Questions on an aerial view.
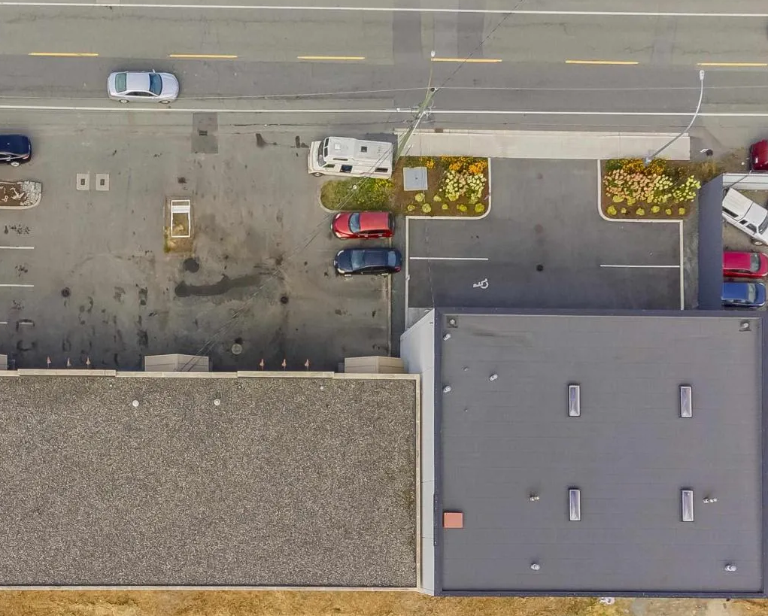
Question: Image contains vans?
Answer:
Yes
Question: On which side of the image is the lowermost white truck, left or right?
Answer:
right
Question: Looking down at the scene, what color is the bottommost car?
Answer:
blue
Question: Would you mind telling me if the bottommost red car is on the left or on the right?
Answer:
right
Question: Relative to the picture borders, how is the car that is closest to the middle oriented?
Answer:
from side to side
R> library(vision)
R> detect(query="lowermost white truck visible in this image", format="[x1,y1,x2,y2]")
[723,183,768,246]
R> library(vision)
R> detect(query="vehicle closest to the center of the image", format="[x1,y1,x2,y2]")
[333,245,401,277]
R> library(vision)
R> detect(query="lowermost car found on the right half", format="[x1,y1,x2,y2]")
[723,279,764,309]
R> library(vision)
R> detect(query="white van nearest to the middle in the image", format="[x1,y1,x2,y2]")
[307,139,393,182]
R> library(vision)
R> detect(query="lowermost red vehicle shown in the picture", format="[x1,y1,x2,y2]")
[723,247,767,280]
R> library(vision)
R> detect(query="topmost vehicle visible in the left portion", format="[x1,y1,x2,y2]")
[107,68,178,106]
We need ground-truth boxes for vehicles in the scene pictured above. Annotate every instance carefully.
[723,247,767,280]
[107,68,178,106]
[333,245,401,277]
[307,139,393,182]
[330,208,395,241]
[723,183,768,246]
[0,135,32,168]
[723,279,764,309]
[752,138,768,170]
